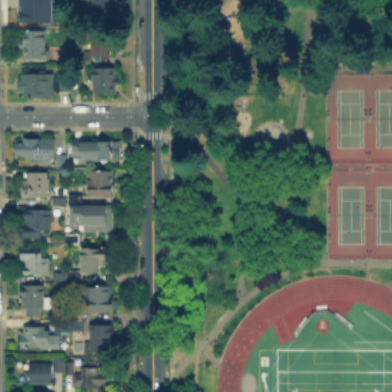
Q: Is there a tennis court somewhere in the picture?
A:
Yes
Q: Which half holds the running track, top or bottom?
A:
bottom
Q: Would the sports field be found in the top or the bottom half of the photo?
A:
bottom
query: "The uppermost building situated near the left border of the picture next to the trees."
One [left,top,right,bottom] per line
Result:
[18,0,52,24]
